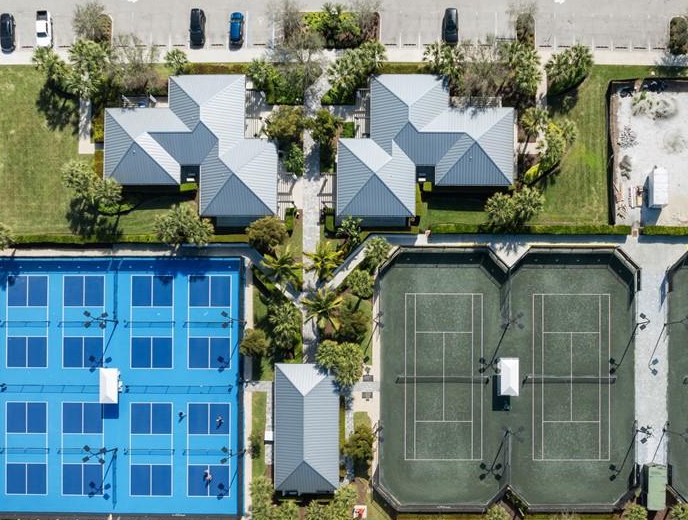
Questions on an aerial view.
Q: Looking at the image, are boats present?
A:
No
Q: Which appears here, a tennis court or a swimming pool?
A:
tennis court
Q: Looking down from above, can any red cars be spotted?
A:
No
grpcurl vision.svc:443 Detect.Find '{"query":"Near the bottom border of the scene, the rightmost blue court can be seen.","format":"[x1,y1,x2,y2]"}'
[181,385,244,516]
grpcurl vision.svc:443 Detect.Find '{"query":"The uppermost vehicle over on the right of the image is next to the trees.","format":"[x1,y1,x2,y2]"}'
[442,7,460,46]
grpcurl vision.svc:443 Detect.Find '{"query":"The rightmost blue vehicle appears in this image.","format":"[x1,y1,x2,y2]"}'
[227,12,245,46]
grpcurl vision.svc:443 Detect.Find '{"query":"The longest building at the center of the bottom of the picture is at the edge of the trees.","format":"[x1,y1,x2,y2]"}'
[275,363,339,491]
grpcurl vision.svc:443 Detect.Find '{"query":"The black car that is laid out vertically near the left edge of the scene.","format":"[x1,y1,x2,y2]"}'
[0,14,17,52]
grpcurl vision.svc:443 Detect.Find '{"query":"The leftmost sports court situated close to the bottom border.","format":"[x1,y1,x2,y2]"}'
[0,385,56,516]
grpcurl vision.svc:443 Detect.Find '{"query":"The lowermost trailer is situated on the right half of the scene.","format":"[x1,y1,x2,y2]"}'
[647,164,668,207]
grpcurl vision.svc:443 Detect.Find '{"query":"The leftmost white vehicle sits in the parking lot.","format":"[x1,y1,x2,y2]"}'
[33,8,53,48]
